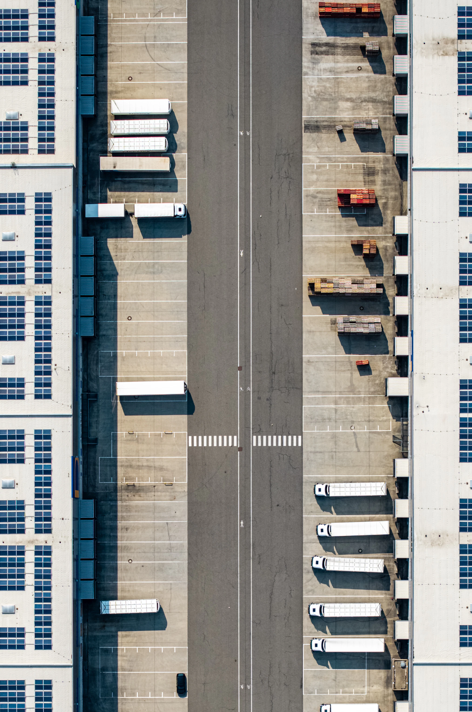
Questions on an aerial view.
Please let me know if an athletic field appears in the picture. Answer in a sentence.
No, I can see no athletic field in this picture.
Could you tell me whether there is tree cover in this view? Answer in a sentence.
No, no tree cover is visible.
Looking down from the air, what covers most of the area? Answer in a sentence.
What you mostly see from above here is paved ground.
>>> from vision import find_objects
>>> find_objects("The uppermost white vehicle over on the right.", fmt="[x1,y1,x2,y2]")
[313,483,386,498]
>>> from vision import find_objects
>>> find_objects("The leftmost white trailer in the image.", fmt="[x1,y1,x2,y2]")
[85,204,127,219]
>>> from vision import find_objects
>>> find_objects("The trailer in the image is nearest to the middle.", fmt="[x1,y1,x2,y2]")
[116,380,188,396]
